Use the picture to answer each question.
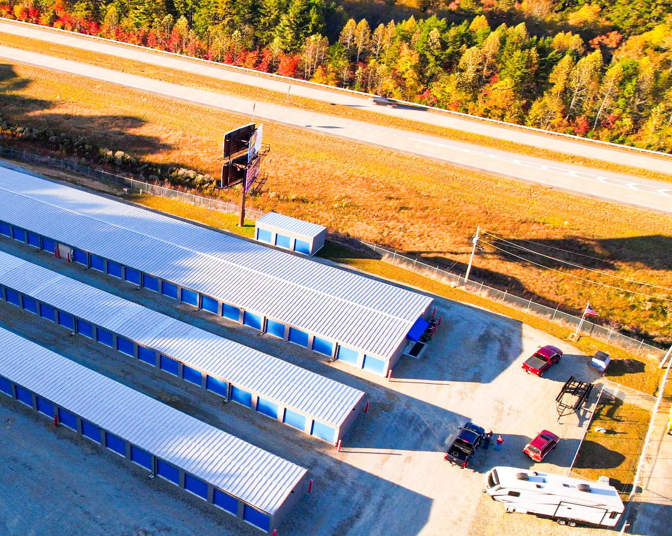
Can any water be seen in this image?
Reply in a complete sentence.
No, no water is visible.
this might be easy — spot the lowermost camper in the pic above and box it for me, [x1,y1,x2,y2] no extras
[488,468,627,532]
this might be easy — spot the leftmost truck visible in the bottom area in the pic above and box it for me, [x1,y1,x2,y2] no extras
[440,422,483,469]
